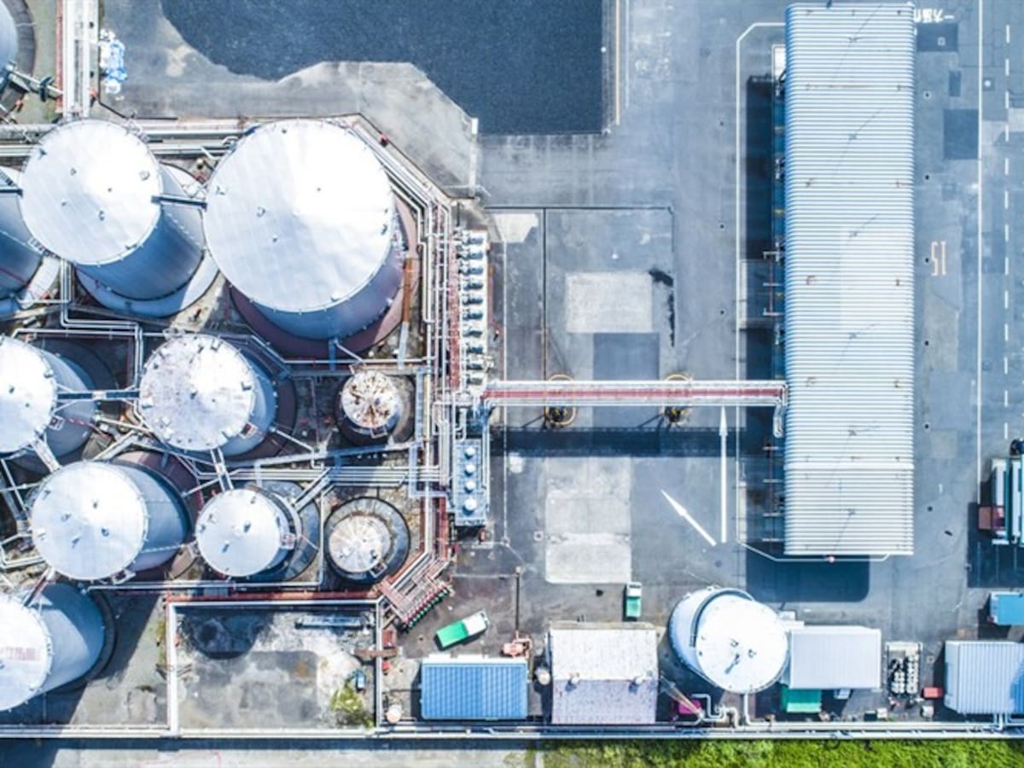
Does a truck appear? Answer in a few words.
Yes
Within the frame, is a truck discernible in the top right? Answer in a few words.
No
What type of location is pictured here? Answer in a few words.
industrial area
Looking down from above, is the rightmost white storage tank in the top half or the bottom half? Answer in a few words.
bottom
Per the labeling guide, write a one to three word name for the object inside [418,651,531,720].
shed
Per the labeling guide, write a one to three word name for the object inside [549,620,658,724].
shed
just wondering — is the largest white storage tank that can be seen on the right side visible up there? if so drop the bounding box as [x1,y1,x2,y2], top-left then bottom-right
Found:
[666,586,791,694]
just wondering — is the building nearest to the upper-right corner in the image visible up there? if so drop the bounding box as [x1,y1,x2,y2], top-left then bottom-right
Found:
[773,0,914,562]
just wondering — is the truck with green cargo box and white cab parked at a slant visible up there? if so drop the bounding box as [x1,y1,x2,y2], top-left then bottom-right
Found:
[431,605,492,651]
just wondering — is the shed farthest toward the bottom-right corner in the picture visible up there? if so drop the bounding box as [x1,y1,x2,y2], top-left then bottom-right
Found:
[934,640,1024,714]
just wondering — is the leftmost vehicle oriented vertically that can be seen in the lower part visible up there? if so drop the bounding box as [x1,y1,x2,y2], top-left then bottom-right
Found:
[623,581,642,620]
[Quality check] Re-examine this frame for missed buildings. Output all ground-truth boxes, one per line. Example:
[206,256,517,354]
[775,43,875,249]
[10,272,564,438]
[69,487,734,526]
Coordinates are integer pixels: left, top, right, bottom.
[418,651,531,720]
[773,0,914,562]
[934,640,1024,714]
[779,611,882,691]
[549,620,658,724]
